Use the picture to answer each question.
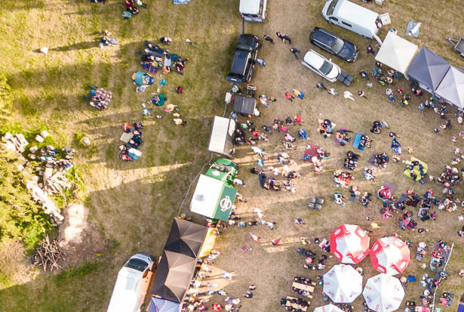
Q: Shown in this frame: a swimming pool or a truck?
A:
truck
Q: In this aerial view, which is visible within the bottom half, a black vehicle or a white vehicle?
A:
white vehicle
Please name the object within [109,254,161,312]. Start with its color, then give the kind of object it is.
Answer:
white van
